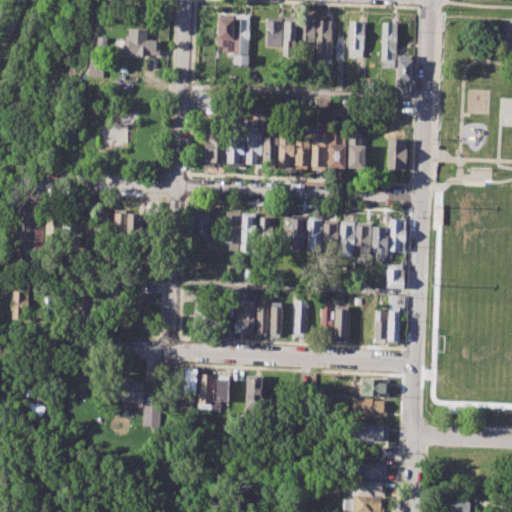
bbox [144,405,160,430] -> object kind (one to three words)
building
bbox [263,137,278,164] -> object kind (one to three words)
house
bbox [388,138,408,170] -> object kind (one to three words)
house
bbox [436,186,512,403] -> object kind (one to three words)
sports field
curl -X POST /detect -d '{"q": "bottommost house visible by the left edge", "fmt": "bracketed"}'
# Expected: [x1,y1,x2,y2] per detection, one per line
[12,290,29,320]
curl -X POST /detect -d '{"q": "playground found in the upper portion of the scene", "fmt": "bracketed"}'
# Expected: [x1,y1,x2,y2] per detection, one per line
[462,123,488,151]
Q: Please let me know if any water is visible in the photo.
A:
No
